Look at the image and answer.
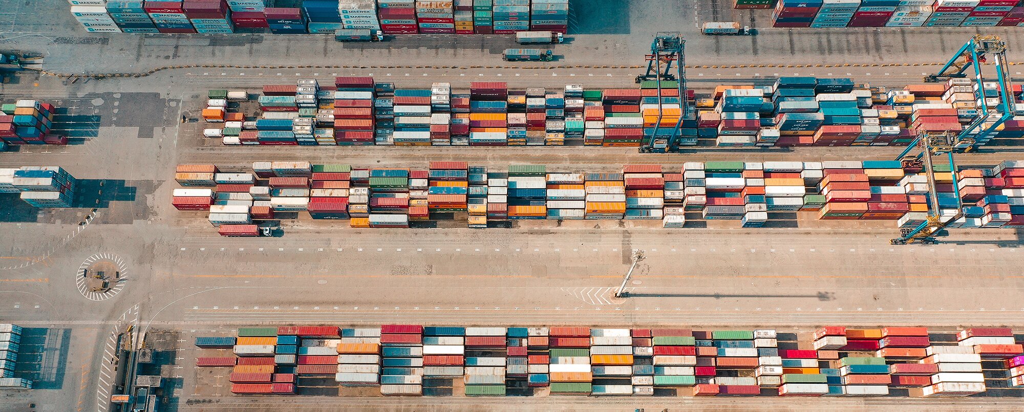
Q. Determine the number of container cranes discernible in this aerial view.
3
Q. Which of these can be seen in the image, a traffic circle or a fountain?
traffic circle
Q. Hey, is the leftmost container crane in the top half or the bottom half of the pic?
top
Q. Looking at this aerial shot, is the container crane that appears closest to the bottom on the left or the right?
right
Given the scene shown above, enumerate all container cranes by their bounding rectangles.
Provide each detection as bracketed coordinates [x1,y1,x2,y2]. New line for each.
[635,24,690,155]
[883,124,965,249]
[921,29,1014,155]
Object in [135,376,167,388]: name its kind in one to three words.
building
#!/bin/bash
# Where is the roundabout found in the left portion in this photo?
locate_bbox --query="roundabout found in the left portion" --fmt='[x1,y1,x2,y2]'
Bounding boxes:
[75,251,128,303]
